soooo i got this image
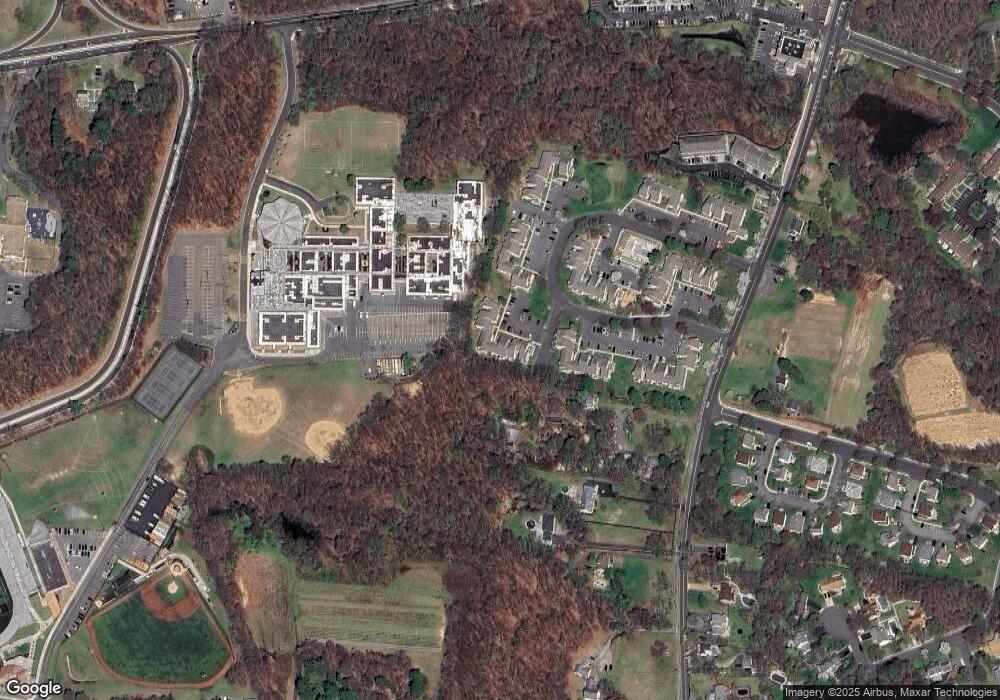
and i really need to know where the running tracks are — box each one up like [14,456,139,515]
[0,488,40,645]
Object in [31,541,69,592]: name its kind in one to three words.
building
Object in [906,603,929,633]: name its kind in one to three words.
house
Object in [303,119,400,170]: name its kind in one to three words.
soccer field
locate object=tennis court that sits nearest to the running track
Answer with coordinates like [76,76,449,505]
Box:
[133,341,204,420]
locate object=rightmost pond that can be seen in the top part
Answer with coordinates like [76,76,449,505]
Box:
[848,93,942,163]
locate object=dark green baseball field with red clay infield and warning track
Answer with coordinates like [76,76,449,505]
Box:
[86,560,235,687]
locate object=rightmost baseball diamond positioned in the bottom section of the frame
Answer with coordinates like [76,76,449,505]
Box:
[306,421,345,462]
